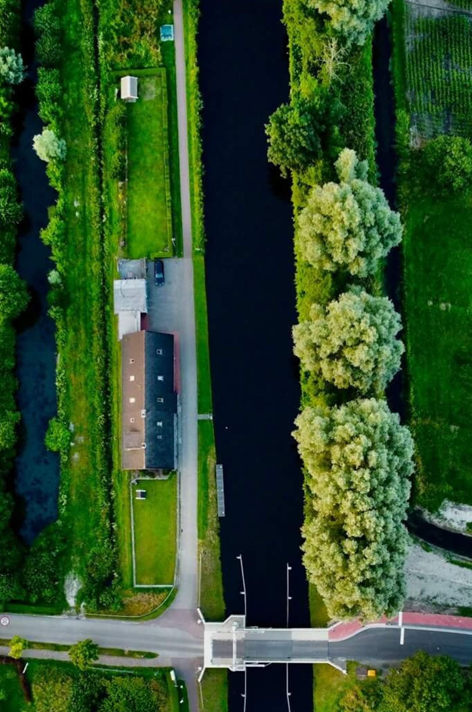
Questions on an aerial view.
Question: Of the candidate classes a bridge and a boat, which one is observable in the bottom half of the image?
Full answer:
Looking in the bottom half of the image, you will find a bridge.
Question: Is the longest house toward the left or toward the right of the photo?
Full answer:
The longest house sits on the left side.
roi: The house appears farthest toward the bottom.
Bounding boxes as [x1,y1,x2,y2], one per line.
[122,329,178,471]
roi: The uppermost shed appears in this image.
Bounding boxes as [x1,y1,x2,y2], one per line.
[121,76,138,106]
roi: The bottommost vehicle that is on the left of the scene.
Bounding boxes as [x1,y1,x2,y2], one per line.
[153,260,165,287]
